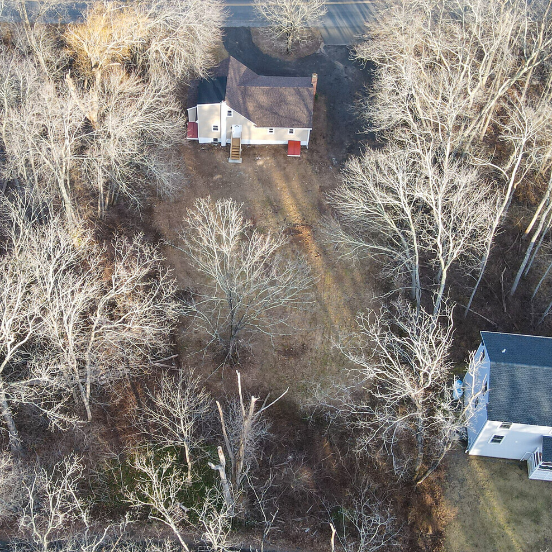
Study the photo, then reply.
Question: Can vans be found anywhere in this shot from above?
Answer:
No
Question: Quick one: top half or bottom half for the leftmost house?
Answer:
top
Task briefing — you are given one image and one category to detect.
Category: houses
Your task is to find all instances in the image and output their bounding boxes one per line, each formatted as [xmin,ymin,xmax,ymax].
[185,53,317,163]
[463,332,552,482]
